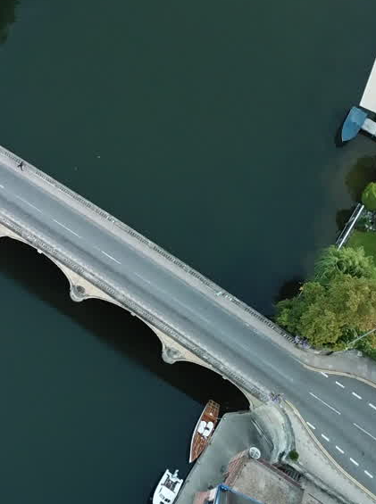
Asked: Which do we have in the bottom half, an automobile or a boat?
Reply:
boat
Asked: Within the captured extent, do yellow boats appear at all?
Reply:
No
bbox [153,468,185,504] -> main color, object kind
white boat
